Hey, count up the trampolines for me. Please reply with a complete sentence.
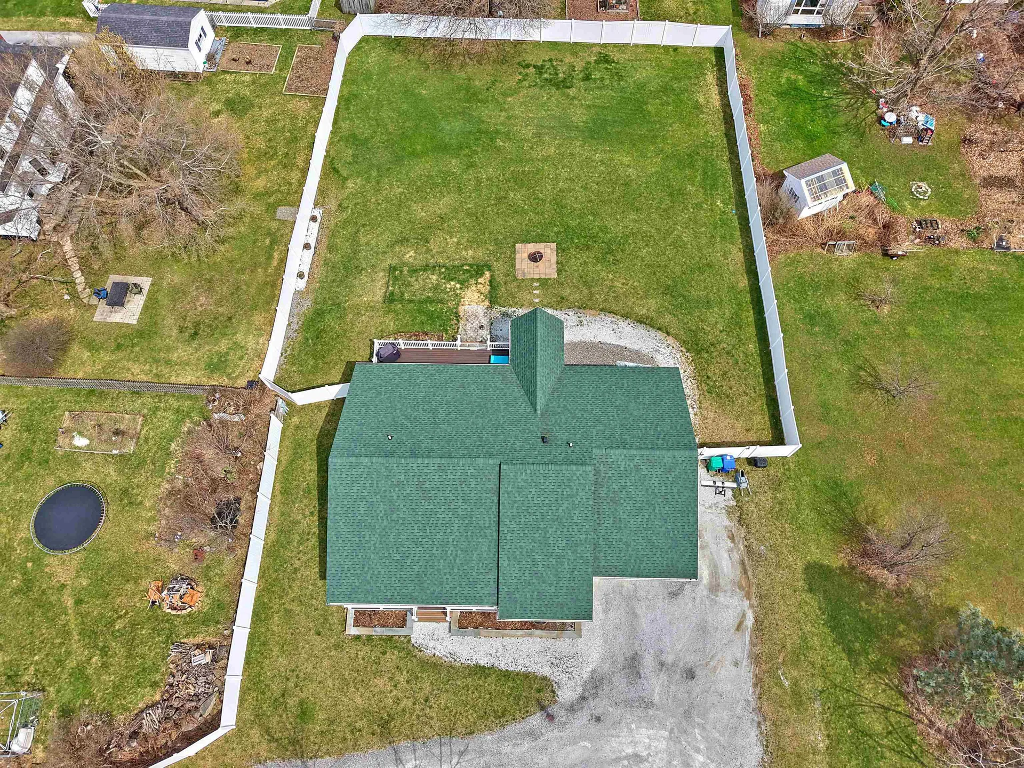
My tally gives 1 trampoline in this photo.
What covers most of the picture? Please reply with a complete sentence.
The bulk of the photo consists of grass.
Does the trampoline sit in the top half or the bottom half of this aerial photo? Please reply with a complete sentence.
You can find the trampoline in the bottom half.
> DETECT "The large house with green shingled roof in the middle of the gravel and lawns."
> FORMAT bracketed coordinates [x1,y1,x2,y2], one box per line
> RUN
[327,307,699,622]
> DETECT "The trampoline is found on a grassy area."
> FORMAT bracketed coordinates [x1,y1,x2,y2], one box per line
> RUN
[32,482,112,555]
